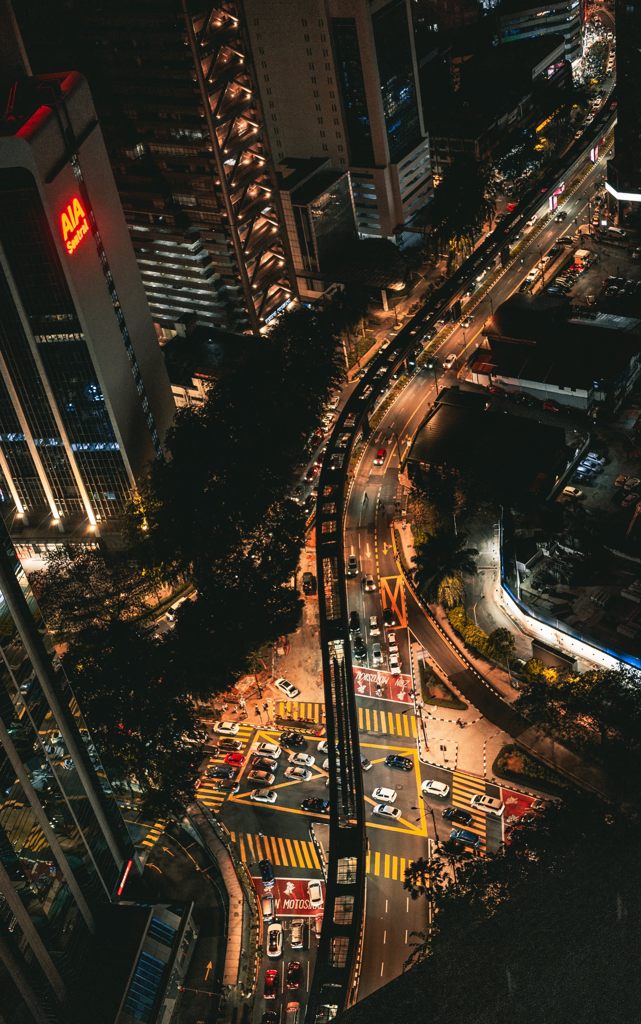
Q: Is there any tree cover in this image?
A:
Yes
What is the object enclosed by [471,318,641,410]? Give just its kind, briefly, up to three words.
shed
